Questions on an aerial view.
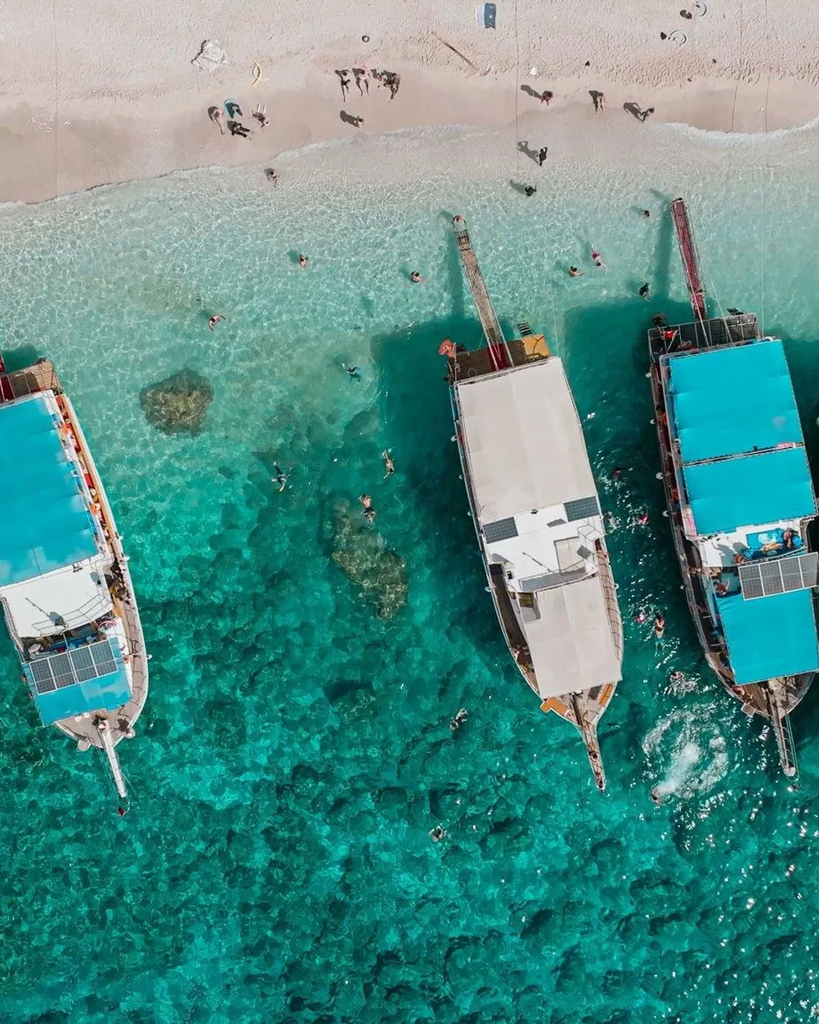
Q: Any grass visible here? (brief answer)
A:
No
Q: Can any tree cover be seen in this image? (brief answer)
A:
No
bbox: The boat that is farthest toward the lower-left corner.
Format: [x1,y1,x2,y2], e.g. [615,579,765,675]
[0,343,158,802]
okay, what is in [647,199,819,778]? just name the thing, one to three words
boat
